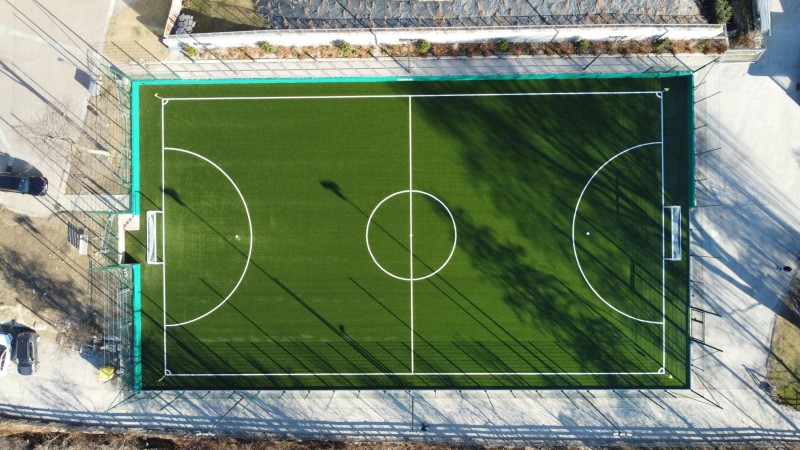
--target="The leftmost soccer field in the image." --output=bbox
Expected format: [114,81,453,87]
[127,78,690,390]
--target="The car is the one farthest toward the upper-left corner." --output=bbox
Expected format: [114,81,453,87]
[0,174,45,198]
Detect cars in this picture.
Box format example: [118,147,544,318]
[12,330,40,375]
[0,332,11,378]
[0,174,45,198]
